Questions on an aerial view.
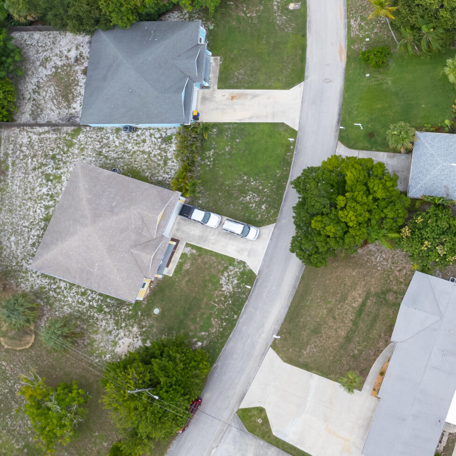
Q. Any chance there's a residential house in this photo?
Yes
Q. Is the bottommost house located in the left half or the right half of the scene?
right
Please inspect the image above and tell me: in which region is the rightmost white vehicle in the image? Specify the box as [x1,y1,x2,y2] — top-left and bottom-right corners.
[220,217,260,241]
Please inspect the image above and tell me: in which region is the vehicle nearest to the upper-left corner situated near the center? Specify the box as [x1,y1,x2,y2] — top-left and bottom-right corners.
[178,203,221,228]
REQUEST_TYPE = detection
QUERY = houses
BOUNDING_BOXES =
[408,132,456,202]
[30,161,187,304]
[362,272,456,456]
[79,20,216,127]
